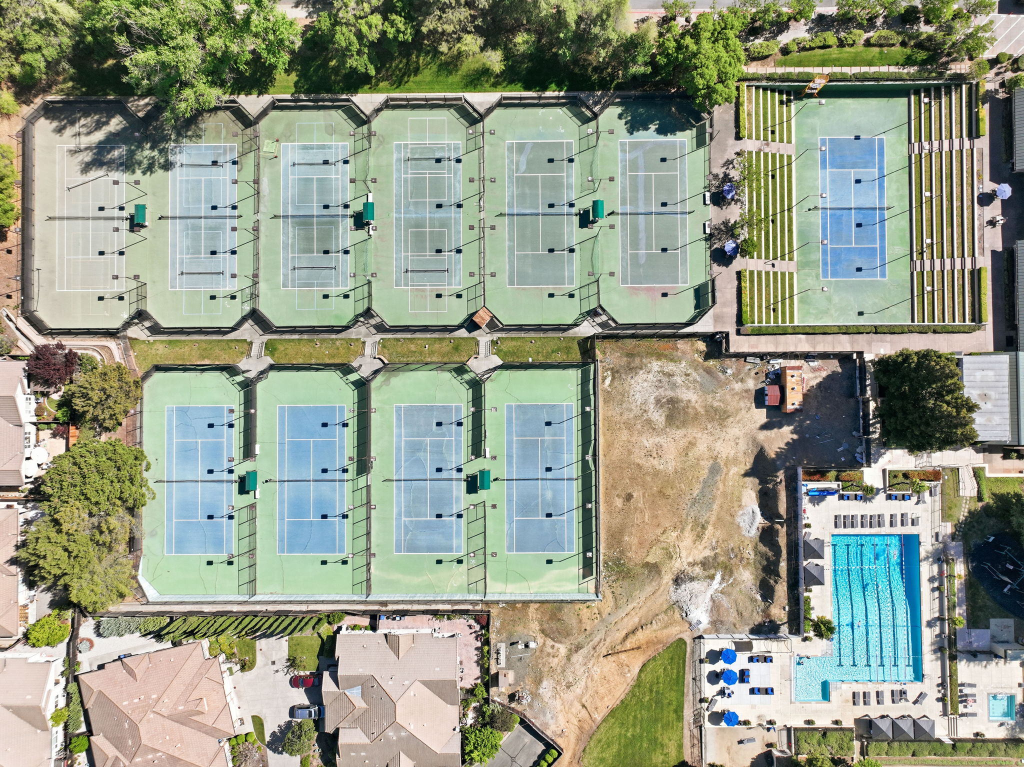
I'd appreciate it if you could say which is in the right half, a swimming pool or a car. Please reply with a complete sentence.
What appears in the right half is a swimming pool.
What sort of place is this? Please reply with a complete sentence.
What you see here is a sports ground.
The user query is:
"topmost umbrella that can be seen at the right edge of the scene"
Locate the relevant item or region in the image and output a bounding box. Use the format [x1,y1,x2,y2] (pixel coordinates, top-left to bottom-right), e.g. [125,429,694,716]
[991,183,1011,199]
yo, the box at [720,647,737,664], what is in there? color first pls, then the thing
blue umbrella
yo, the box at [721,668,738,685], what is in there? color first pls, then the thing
blue umbrella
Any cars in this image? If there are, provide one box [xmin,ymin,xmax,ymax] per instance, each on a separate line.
[292,705,323,722]
[290,676,320,692]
